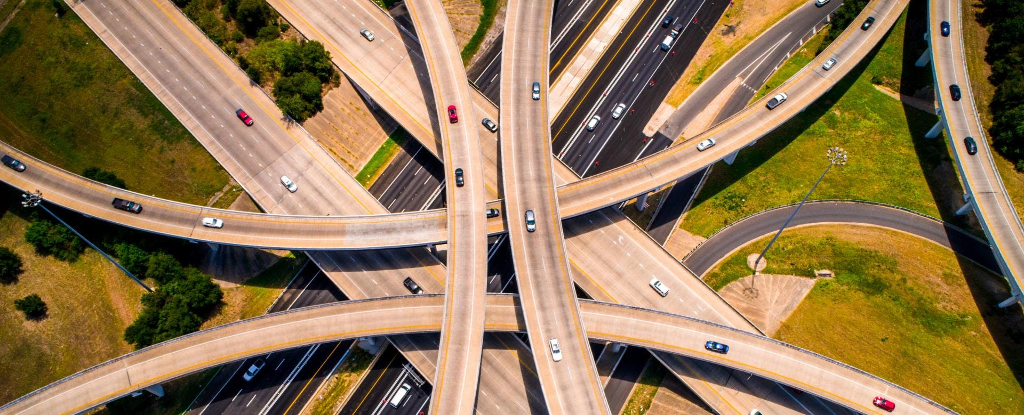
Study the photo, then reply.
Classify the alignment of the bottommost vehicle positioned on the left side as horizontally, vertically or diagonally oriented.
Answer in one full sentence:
In this picture, the bottommost vehicle positioned on the left side lies diagonally.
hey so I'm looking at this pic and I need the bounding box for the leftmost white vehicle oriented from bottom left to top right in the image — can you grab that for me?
[390,383,411,408]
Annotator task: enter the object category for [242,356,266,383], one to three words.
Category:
truck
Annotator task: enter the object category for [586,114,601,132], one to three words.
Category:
car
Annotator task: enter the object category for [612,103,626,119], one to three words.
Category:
car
